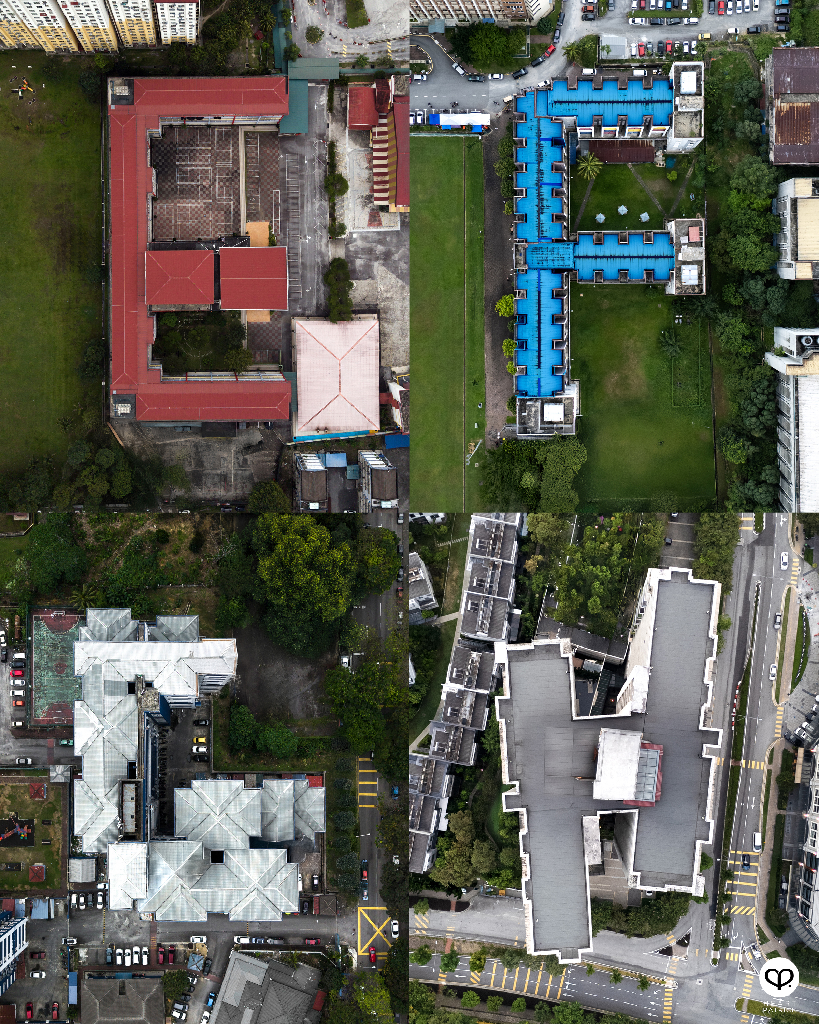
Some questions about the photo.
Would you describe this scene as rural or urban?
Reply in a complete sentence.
It looks urban.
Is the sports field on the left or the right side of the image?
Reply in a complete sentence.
The sports field sits on the left side.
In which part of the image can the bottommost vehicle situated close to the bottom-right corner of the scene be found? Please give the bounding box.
[751,944,764,963]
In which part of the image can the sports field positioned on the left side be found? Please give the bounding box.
[0,48,101,512]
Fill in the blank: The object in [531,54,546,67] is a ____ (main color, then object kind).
black vehicle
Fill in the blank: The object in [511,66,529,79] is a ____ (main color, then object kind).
black vehicle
